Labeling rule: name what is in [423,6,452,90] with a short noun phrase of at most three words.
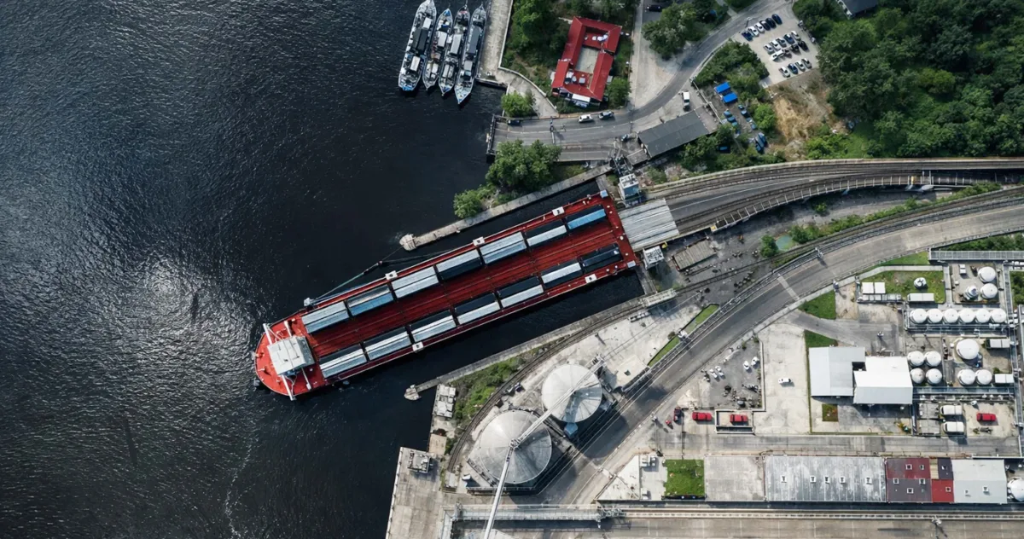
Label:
boat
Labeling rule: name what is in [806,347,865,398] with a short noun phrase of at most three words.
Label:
building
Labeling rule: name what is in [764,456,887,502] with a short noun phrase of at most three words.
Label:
building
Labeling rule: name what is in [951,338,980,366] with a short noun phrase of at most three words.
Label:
storage tank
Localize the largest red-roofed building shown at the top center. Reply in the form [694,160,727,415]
[550,16,622,107]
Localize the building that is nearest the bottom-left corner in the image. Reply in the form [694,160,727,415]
[408,452,433,471]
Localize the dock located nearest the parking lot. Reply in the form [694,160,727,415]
[406,294,647,400]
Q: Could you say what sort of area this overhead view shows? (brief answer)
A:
port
